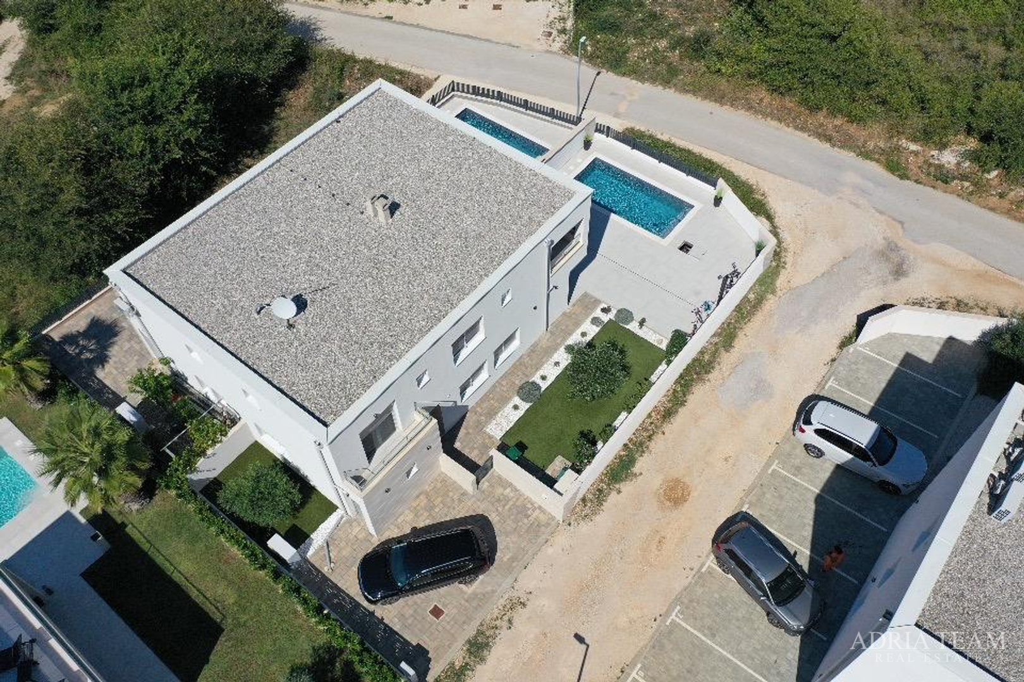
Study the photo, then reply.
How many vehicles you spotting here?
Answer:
3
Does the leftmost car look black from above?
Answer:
Yes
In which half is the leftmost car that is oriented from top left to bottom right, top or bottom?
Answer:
bottom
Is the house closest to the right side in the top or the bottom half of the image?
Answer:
bottom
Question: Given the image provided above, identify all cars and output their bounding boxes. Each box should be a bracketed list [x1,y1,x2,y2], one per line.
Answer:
[711,518,829,637]
[356,522,490,604]
[797,402,927,494]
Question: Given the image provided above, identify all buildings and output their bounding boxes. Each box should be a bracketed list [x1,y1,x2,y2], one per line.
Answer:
[102,78,596,536]
[811,381,1024,682]
[0,569,103,682]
